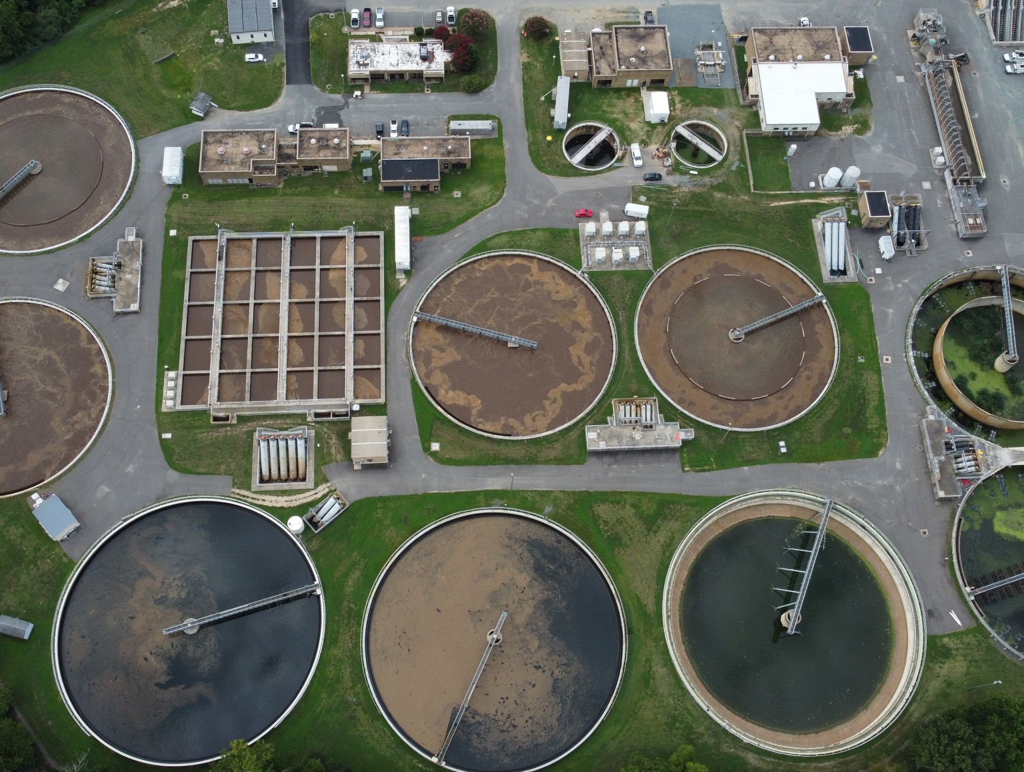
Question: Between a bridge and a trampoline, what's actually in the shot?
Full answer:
The one in the frame is a bridge.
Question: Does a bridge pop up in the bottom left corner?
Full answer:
Yes, there is a bridge in the bottom left corner.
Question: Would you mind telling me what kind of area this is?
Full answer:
What you see here is an industrial area.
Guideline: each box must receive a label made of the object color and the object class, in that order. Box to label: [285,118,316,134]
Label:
white vehicle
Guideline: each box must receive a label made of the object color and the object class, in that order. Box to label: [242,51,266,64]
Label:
white vehicle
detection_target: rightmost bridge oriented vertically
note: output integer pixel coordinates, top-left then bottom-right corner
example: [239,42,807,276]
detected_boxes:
[998,264,1021,366]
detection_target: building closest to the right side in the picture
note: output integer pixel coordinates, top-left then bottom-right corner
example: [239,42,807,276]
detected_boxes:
[914,404,1024,500]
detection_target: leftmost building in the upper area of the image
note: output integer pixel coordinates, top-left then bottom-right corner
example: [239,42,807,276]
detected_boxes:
[84,228,152,315]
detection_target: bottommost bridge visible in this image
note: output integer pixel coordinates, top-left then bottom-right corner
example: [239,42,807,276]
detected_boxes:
[437,611,507,762]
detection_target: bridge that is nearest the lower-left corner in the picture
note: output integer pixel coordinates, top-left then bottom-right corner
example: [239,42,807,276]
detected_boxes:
[162,584,322,635]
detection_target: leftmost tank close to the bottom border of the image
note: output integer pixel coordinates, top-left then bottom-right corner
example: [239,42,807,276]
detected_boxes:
[50,494,325,765]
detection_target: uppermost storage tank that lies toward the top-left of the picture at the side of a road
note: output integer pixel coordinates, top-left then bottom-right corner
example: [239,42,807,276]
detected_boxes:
[0,83,137,255]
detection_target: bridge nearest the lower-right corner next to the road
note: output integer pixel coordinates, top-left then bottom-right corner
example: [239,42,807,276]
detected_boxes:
[963,568,1024,598]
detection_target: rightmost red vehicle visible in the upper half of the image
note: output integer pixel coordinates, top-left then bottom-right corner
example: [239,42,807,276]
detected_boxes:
[574,207,594,219]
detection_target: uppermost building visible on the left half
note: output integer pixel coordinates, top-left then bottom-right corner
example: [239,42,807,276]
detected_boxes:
[230,0,282,44]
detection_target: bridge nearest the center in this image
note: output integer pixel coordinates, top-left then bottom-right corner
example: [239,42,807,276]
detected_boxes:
[413,309,539,349]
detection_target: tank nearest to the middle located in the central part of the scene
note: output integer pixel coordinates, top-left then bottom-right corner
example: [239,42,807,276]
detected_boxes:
[409,247,617,439]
